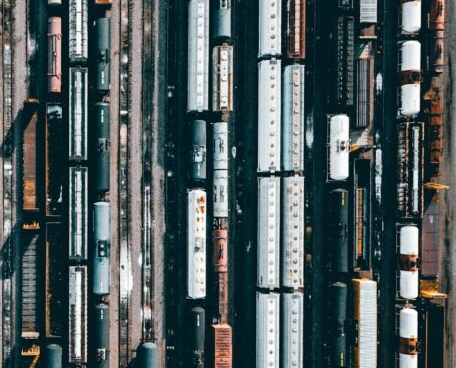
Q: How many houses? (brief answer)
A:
0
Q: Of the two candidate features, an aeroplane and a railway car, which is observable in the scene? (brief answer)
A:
railway car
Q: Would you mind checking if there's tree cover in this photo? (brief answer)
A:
No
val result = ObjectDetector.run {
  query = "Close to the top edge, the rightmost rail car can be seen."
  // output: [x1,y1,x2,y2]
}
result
[423,0,440,81]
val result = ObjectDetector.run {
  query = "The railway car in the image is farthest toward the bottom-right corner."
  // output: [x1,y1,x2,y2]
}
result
[397,301,424,368]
